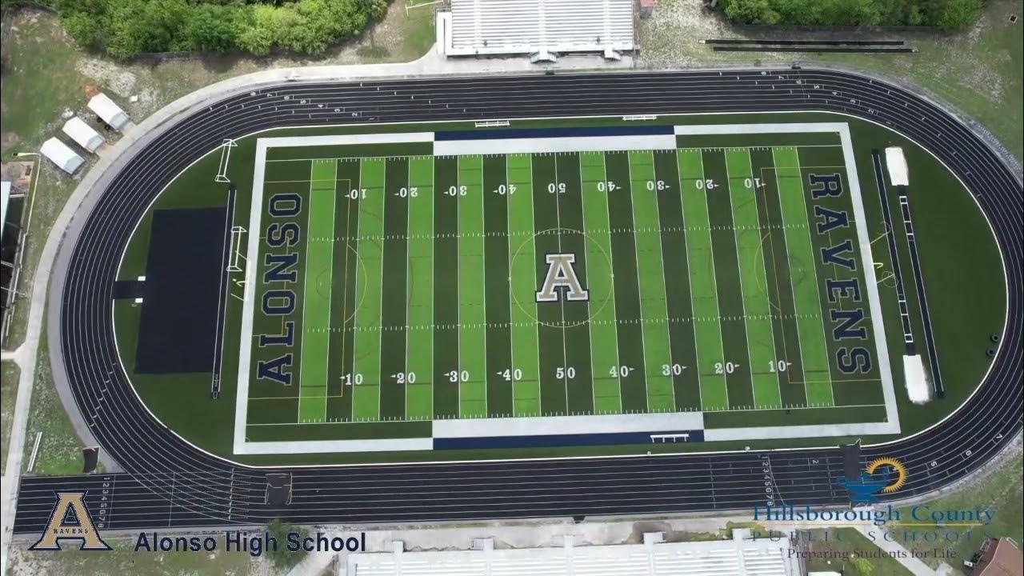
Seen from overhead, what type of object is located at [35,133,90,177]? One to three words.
shed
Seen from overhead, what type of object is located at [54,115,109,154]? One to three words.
shed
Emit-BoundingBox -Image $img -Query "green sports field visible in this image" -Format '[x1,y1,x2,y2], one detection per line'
[235,120,902,456]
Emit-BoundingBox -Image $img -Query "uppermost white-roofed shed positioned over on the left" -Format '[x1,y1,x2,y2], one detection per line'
[84,90,133,132]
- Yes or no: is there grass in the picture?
Yes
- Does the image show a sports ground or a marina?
sports ground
